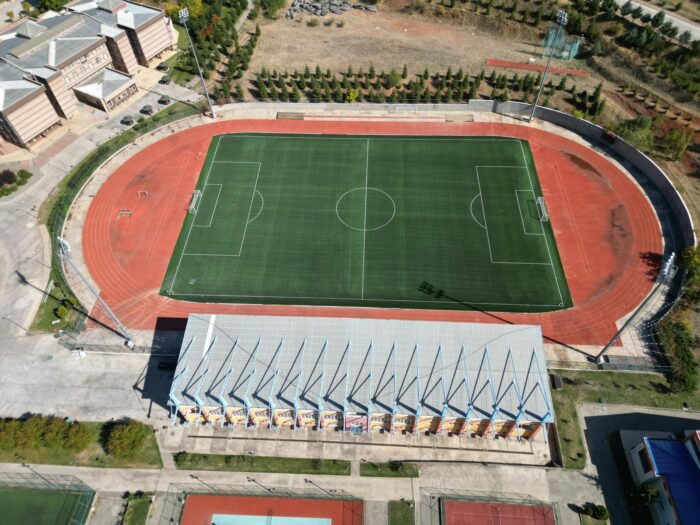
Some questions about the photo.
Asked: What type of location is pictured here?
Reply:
sports ground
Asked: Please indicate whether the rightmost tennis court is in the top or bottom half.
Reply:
bottom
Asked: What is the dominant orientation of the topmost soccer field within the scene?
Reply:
from side to side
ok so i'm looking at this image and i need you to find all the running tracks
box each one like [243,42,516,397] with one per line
[83,119,661,345]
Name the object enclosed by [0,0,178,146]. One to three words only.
building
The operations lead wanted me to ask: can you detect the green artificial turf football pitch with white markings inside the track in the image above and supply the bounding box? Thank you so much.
[161,132,573,312]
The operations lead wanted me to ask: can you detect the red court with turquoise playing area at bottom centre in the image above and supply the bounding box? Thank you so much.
[180,494,364,525]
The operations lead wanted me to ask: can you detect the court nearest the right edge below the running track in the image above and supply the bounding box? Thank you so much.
[440,500,555,525]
